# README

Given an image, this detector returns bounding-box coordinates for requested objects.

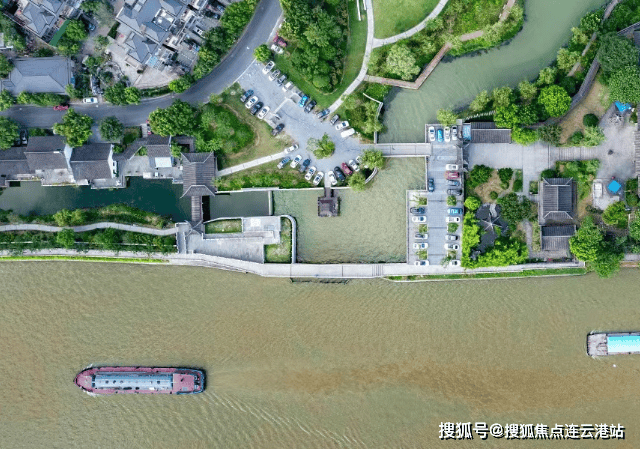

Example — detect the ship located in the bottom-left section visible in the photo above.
[73,364,207,395]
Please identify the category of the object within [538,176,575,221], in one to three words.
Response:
building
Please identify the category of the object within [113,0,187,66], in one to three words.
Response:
house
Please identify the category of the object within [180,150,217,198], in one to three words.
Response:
building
